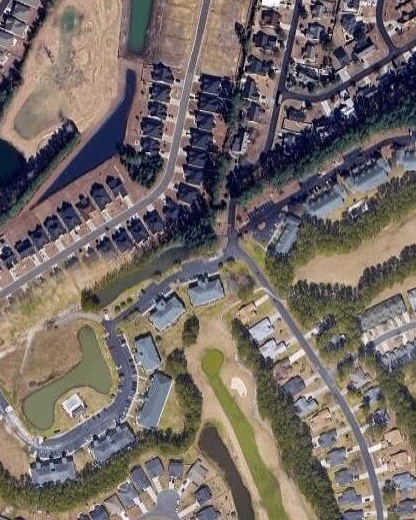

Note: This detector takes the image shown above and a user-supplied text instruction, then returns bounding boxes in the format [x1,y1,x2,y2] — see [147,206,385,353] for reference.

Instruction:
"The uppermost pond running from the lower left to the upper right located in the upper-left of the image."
[30,66,136,210]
